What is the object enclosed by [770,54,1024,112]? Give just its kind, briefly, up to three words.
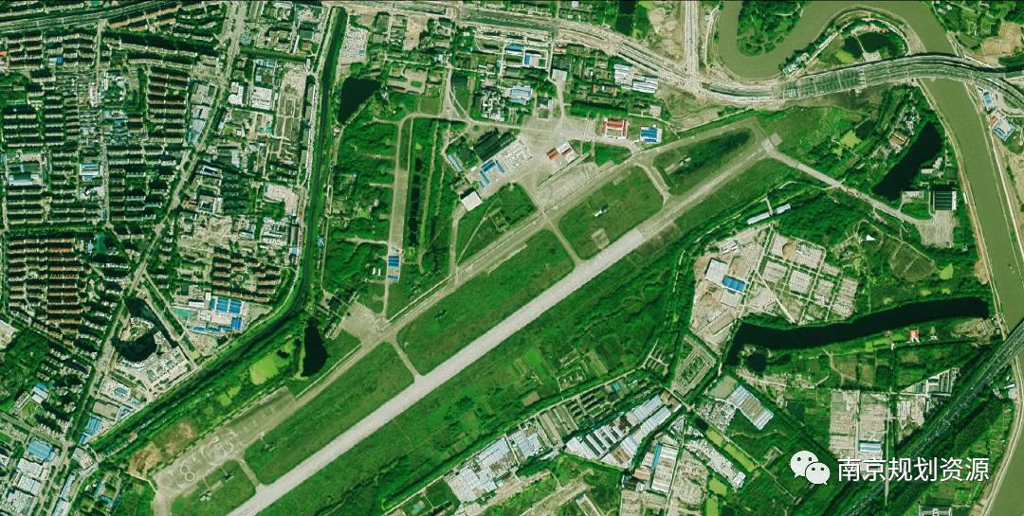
bridge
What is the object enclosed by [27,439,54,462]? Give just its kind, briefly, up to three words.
building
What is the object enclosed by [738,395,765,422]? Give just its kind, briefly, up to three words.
greenhouse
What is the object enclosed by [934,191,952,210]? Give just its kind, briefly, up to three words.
hangar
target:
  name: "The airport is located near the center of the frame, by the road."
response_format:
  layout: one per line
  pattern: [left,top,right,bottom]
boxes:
[149,107,956,516]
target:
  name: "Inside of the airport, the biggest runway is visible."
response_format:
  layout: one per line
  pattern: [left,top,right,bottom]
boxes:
[247,128,774,515]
